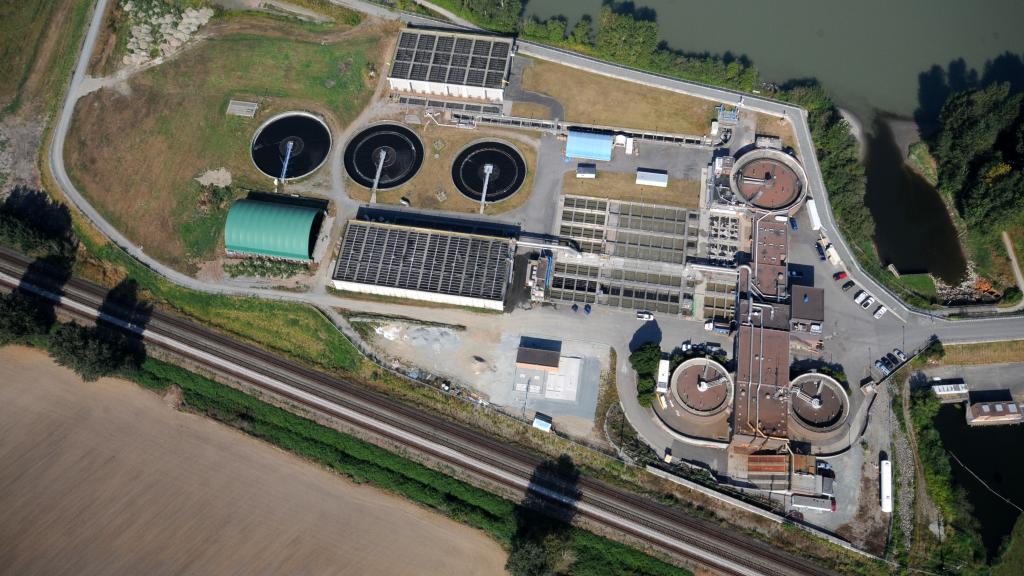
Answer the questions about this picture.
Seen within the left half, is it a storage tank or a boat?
storage tank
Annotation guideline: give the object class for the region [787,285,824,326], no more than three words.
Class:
building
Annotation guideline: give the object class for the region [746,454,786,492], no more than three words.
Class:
house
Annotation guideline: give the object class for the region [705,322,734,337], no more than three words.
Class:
vehicle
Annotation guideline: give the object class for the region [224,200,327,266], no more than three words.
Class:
shed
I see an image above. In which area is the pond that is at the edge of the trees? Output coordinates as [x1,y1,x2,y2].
[937,403,1024,559]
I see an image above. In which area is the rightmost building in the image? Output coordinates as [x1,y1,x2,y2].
[966,390,1024,425]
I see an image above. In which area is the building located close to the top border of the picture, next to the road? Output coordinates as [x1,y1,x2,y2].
[387,28,517,103]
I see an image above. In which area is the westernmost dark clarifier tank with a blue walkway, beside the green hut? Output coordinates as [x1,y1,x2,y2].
[250,112,333,183]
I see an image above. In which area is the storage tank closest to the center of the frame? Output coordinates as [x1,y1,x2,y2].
[450,138,529,213]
